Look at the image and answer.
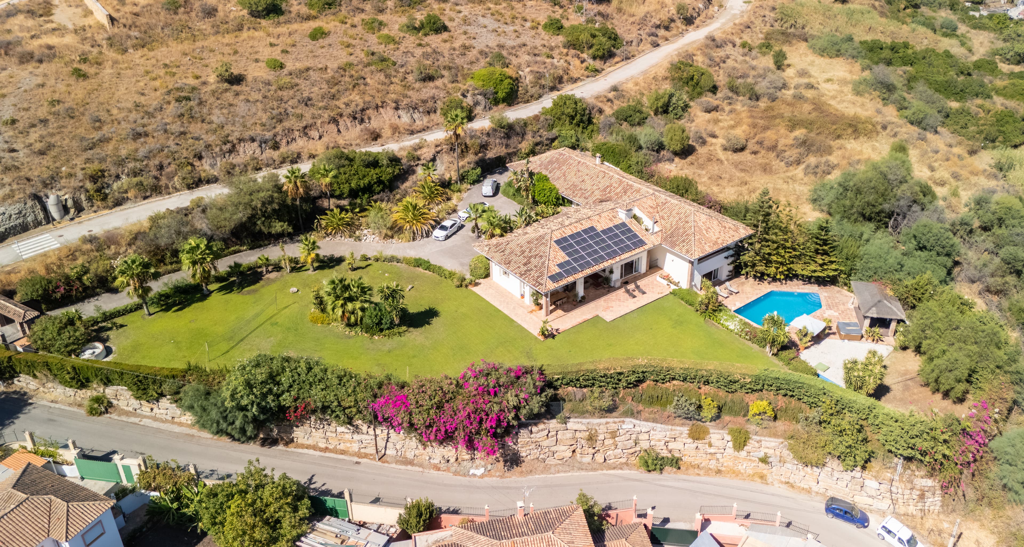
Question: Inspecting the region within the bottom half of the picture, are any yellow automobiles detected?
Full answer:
No, no yellow automobile can be made out within the bottom half of the picture.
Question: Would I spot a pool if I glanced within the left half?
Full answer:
No, there's no pool to be seen within the left half.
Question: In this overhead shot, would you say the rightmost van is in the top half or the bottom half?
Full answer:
Seen from above, the rightmost van lies in the bottom half of the view.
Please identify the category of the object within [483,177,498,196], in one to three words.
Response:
vehicle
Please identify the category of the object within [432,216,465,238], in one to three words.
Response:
car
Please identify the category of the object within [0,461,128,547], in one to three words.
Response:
house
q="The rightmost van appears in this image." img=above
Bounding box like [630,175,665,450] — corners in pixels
[870,511,928,547]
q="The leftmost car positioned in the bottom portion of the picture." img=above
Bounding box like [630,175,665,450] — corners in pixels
[822,494,874,531]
